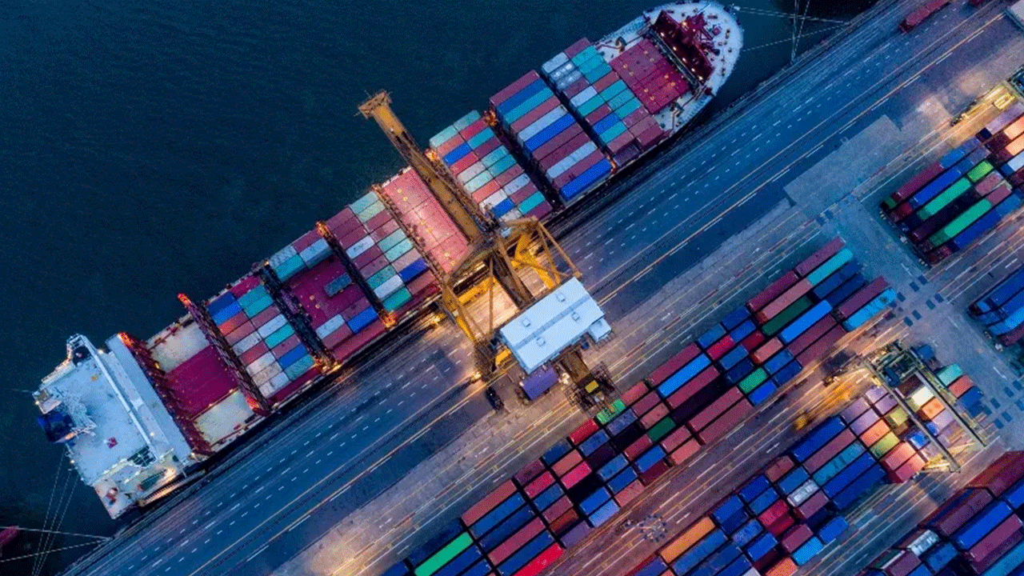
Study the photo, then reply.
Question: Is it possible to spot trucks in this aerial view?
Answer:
Yes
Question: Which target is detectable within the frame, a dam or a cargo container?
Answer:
cargo container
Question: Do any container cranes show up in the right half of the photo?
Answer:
Yes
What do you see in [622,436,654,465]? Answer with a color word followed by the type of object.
pink shipping container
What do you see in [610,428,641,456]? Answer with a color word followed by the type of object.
black shipping container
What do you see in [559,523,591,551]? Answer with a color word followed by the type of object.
purple shipping container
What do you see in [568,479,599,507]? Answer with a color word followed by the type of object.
black shipping container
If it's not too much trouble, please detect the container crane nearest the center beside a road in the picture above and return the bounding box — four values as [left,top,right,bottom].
[360,84,629,420]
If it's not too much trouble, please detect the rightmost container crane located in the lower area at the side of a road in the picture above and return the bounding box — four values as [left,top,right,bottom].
[834,338,988,482]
